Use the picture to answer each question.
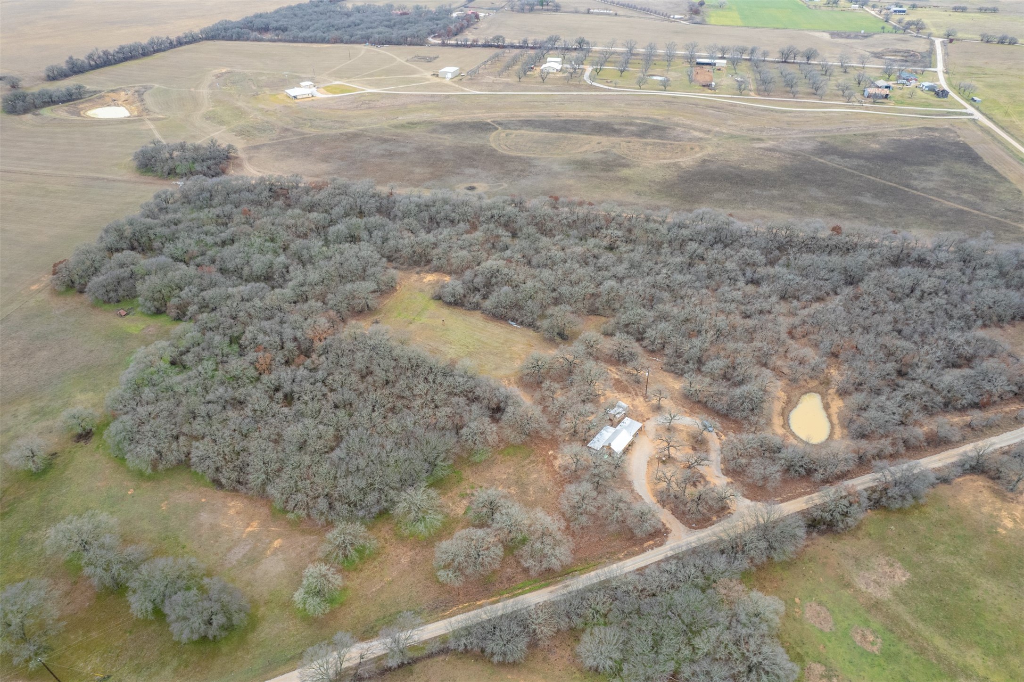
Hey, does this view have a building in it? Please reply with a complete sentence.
Yes, a building appears in the view.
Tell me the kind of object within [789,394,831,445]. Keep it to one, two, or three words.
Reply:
pond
